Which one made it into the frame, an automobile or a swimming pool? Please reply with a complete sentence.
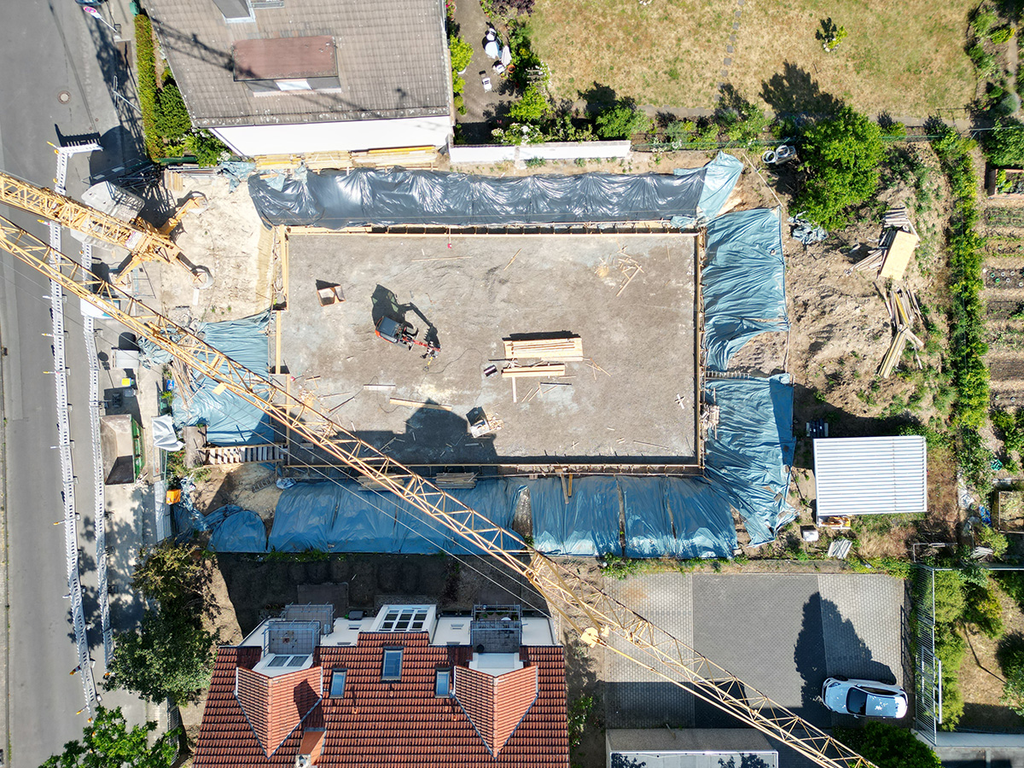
The image shows an automobile.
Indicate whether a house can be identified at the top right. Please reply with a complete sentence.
No, there's no house to be seen at the top right.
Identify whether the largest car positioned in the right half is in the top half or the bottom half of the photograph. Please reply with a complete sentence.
The largest car positioned in the right half is in the bottom half of the image.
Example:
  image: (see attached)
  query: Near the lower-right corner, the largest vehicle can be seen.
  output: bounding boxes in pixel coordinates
[817,670,908,720]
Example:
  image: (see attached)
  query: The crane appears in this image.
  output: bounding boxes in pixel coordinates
[0,176,879,768]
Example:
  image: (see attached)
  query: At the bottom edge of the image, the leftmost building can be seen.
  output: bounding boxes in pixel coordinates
[196,593,568,768]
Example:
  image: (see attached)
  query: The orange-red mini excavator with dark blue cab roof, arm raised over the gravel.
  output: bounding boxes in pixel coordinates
[371,313,442,361]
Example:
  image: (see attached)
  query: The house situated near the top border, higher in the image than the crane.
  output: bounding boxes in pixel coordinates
[131,0,458,157]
